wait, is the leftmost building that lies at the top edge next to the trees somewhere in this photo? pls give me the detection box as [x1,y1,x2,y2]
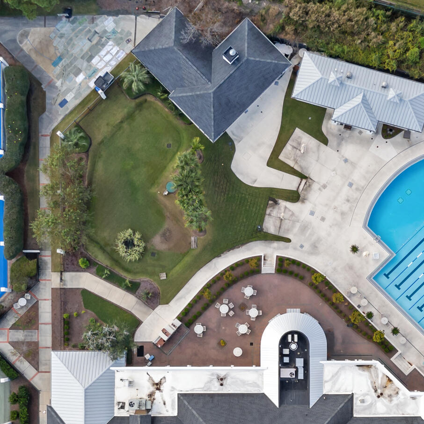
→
[130,6,293,143]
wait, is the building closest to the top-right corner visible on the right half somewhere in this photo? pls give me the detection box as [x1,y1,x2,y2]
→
[291,50,424,131]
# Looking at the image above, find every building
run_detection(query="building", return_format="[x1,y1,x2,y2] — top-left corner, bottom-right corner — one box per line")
[47,307,424,424]
[130,6,293,143]
[291,50,424,131]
